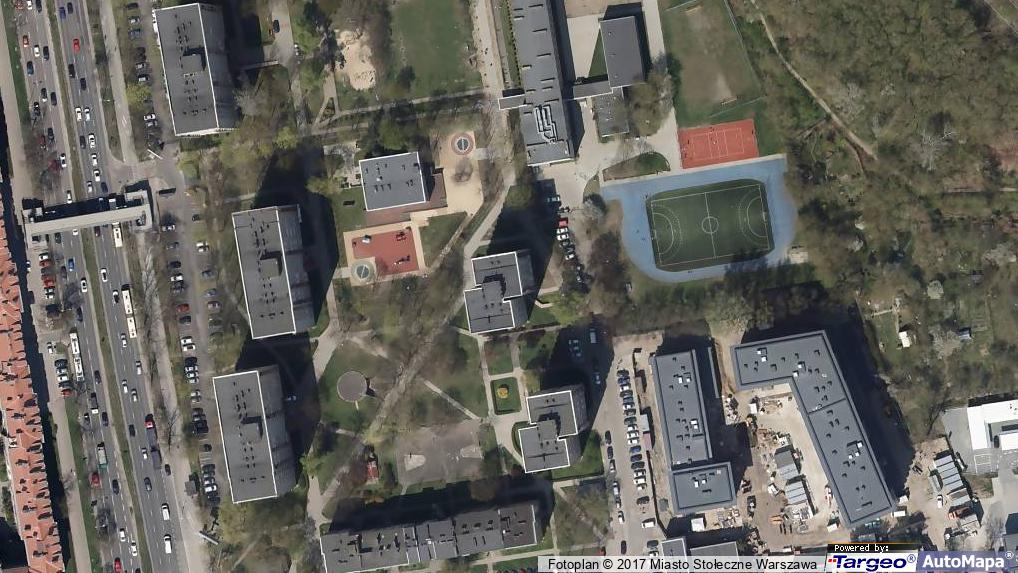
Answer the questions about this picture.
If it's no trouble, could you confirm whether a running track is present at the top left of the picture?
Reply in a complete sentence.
No, the scene shows no running track at the top left of the picture.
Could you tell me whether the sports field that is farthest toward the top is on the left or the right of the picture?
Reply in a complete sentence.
The sports field that is farthest toward the top sits on the right side.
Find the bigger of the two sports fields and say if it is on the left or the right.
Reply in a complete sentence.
The bigger of the two sports fields sits on the right side.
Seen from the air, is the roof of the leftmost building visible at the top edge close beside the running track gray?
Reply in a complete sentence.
Yes, the roof of the leftmost building visible at the top edge close beside the running track is gray.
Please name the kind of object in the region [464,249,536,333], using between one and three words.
building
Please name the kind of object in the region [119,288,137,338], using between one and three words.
vehicle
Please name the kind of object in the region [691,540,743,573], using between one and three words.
building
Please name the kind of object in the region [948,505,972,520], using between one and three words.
vehicle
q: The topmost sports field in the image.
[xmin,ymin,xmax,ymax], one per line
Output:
[681,3,753,109]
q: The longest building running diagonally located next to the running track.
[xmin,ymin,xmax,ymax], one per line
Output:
[732,327,897,525]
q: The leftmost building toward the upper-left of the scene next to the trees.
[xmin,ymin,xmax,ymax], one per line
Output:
[155,3,240,135]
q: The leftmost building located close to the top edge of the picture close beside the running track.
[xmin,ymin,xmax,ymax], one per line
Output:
[509,0,577,165]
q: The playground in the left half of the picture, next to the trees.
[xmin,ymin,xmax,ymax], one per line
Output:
[352,228,419,276]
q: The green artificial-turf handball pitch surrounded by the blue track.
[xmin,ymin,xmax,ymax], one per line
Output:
[646,178,775,272]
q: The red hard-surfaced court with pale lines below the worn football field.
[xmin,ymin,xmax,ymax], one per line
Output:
[678,119,759,168]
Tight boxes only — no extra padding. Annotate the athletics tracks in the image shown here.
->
[601,157,797,282]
